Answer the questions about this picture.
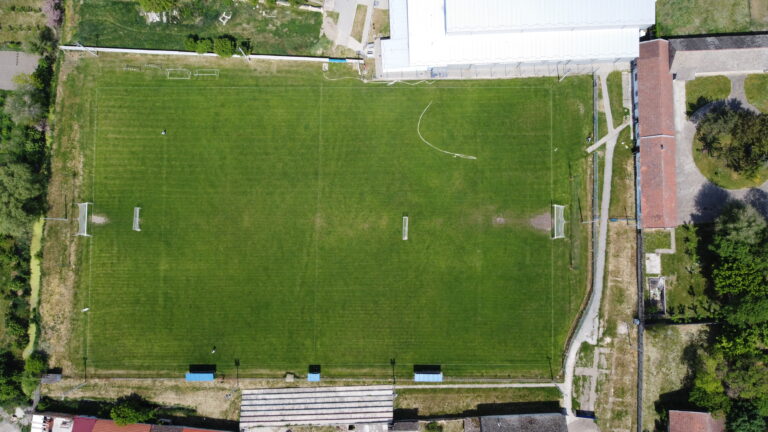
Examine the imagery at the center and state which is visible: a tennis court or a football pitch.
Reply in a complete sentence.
You can see a football pitch at the center.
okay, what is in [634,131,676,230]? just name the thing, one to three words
building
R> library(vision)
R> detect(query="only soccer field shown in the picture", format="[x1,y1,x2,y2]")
[82,82,560,372]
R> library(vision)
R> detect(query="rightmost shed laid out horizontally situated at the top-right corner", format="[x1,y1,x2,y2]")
[672,33,768,75]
